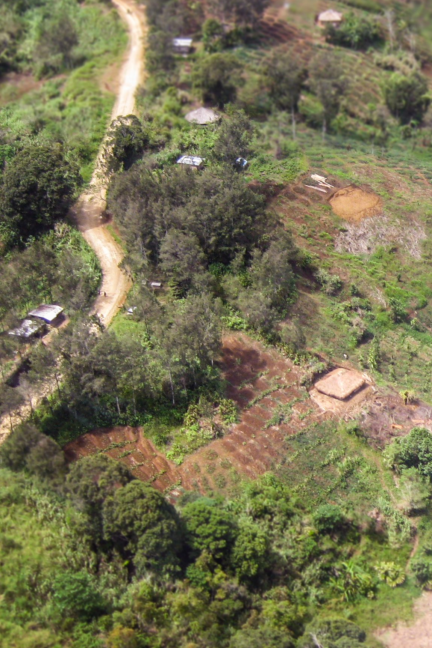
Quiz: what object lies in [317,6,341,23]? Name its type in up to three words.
shed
